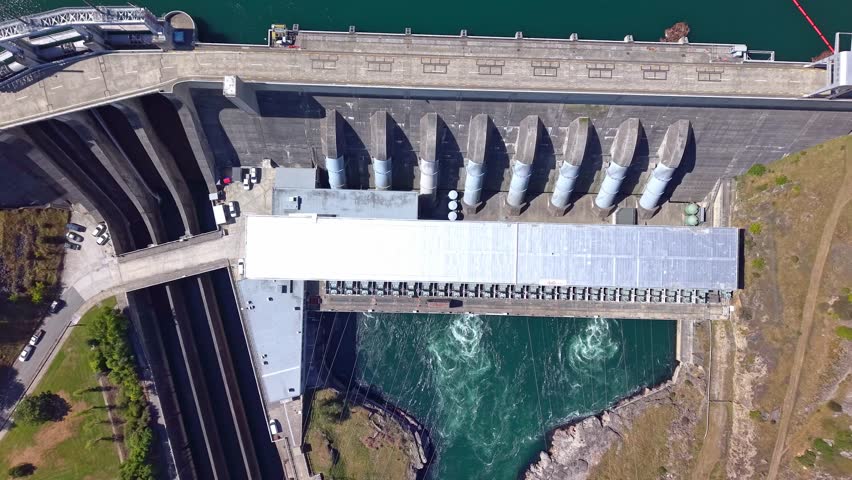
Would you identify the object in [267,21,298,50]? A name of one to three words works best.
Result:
crane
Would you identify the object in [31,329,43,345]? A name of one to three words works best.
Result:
vehicle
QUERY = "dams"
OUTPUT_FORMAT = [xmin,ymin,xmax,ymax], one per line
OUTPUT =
[0,30,852,200]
